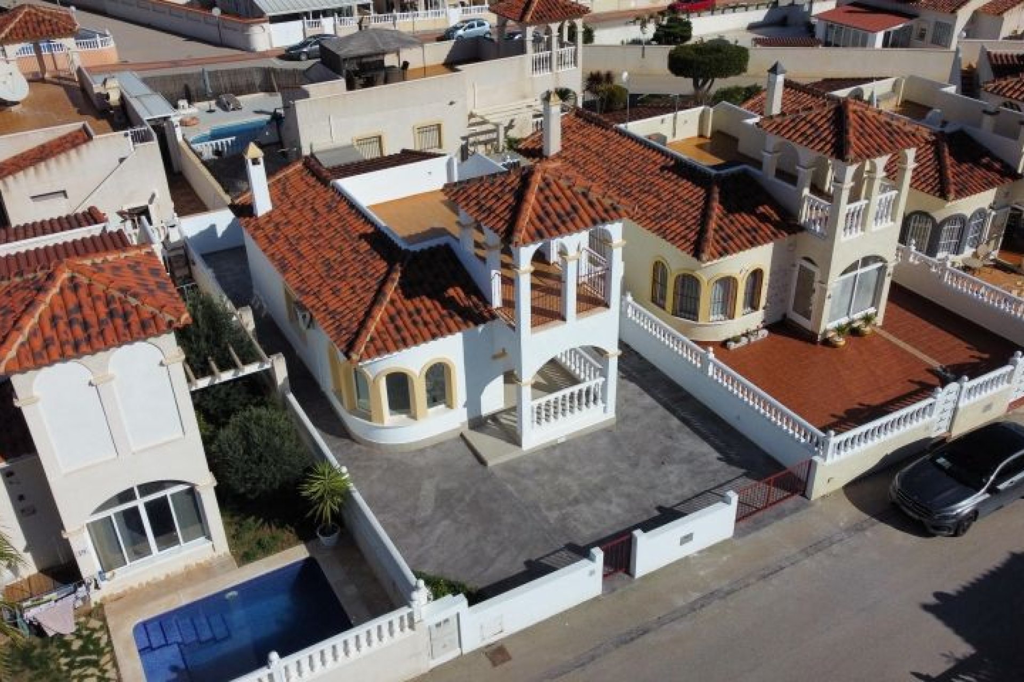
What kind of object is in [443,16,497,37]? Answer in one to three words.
car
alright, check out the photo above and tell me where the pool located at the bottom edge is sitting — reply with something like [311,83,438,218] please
[135,558,354,682]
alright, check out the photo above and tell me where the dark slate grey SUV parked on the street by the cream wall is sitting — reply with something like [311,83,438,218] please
[886,418,1024,533]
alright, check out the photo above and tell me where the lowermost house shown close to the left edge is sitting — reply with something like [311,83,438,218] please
[0,203,231,615]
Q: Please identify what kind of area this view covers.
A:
residential area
